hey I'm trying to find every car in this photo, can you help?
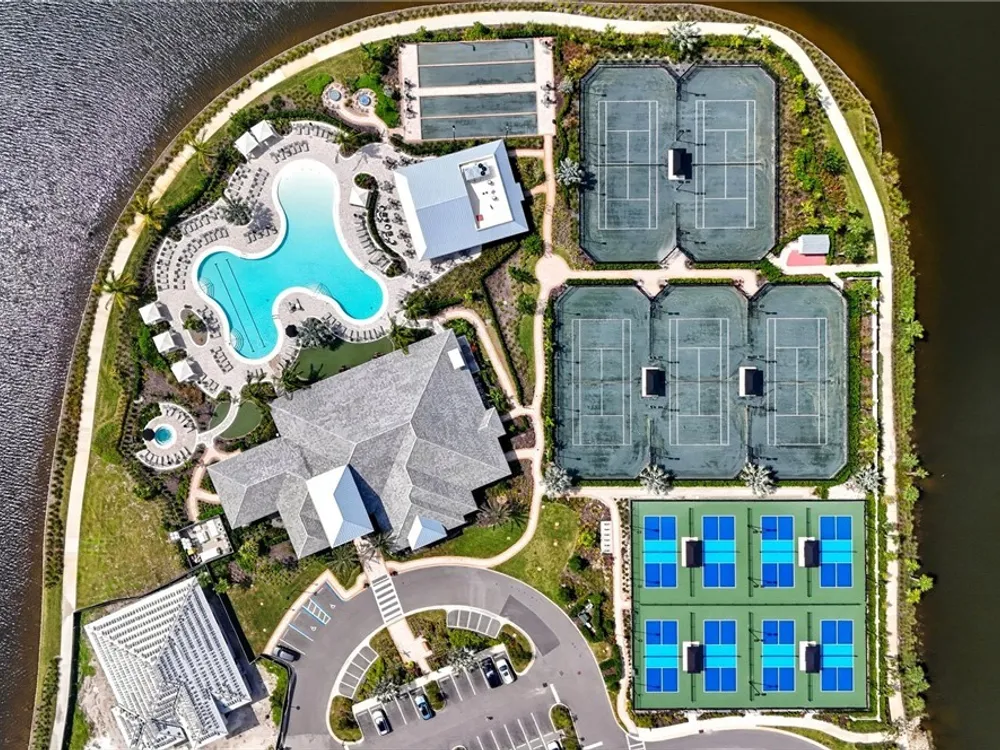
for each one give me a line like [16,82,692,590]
[480,659,501,688]
[414,696,433,722]
[496,659,515,687]
[373,710,391,737]
[273,646,299,664]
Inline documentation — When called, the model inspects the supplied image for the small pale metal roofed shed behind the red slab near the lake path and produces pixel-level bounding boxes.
[798,235,830,254]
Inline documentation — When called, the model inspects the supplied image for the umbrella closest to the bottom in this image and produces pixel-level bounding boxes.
[143,428,156,440]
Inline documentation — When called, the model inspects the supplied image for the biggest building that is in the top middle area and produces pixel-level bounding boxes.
[394,140,528,260]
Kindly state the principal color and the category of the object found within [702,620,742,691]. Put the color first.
blue sports court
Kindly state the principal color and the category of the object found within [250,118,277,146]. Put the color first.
white tent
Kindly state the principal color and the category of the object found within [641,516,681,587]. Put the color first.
blue sports court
